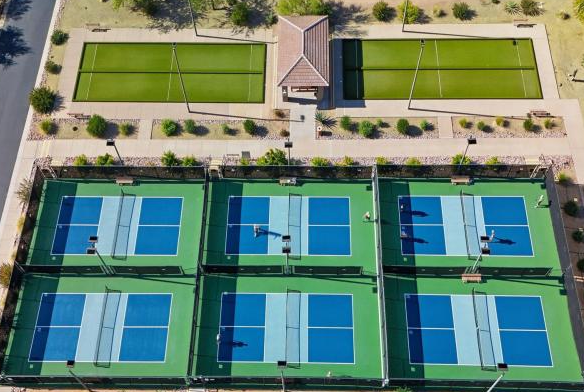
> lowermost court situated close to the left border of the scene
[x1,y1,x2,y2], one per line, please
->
[0,273,200,390]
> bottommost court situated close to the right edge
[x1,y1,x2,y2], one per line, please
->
[376,275,584,392]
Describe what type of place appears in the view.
sports ground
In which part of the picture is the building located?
top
